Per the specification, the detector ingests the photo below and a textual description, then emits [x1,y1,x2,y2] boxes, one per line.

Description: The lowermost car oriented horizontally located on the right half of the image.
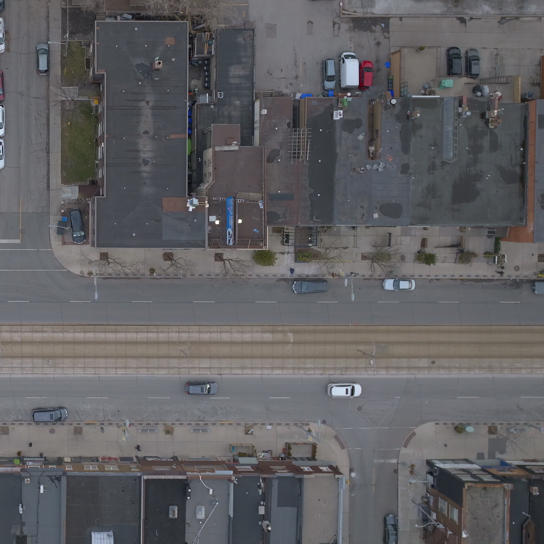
[326,382,361,399]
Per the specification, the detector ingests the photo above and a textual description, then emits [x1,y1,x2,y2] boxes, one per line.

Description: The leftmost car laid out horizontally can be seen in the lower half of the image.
[32,407,67,423]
